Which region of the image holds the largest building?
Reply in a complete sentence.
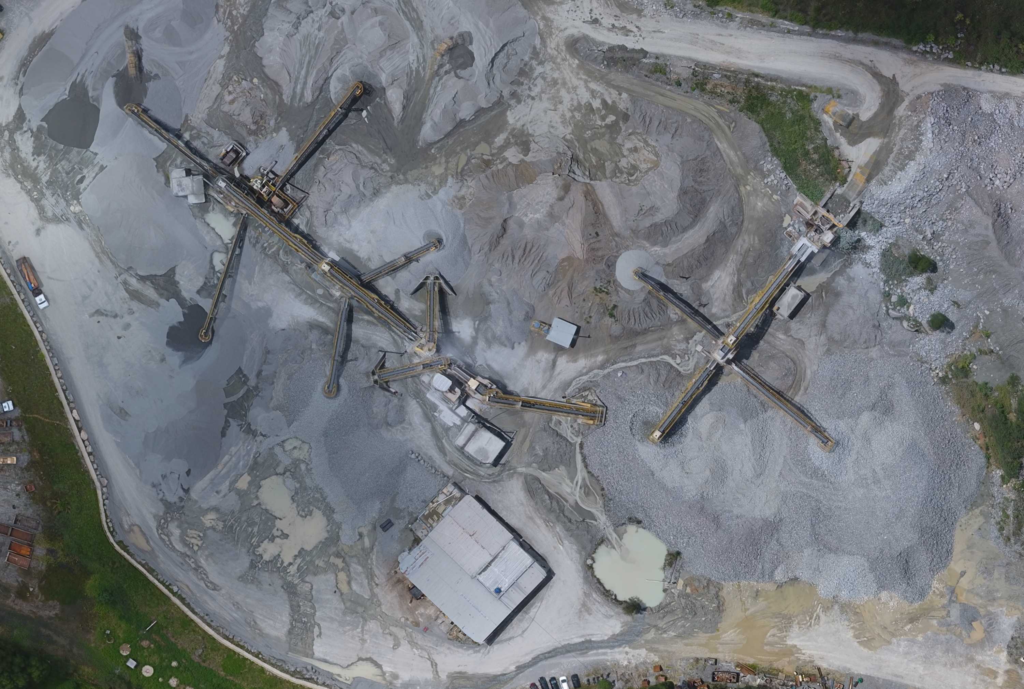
The largest building is located in the bottom region of the scene.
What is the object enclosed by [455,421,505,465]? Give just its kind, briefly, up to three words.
building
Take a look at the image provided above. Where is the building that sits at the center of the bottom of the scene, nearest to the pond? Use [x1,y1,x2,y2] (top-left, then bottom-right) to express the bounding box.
[398,495,547,644]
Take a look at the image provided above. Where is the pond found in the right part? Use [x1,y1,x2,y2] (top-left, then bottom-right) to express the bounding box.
[593,524,667,609]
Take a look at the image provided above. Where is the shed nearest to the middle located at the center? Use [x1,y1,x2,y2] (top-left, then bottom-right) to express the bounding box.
[546,318,577,348]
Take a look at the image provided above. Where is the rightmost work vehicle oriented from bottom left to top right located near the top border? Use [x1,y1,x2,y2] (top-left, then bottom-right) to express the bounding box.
[433,33,462,55]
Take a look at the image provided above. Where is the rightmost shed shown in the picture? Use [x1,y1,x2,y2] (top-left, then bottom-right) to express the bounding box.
[772,284,804,320]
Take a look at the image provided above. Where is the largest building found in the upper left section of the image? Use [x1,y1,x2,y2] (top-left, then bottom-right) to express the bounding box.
[171,169,205,203]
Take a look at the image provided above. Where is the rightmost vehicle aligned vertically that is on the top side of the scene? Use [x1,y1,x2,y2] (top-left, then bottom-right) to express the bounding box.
[126,41,138,72]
